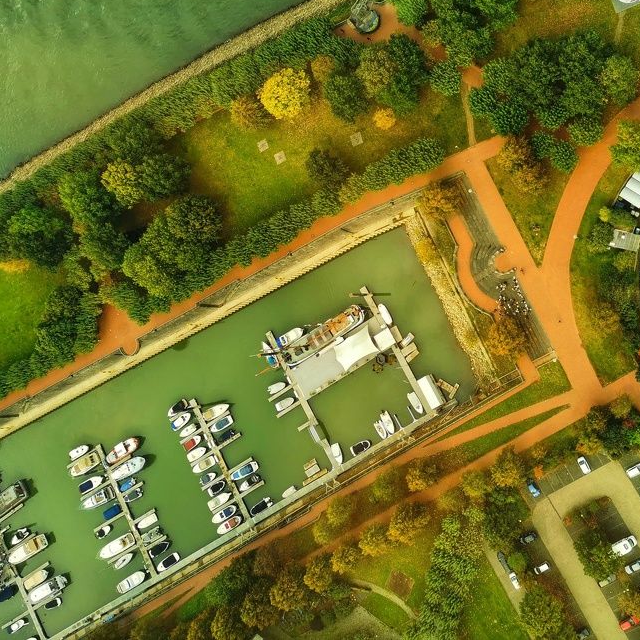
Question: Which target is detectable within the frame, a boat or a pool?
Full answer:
Of the two, only a boat appears.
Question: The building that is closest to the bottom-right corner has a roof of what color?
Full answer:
The color of the roof on the building that is closest to the bottom-right corner is white.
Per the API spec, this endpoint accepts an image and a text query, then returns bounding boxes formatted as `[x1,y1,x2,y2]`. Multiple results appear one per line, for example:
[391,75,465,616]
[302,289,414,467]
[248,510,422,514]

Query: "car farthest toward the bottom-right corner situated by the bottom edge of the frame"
[619,615,640,631]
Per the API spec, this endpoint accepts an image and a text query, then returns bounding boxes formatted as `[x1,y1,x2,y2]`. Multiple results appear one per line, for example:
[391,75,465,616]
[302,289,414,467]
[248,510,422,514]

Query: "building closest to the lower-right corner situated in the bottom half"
[416,373,448,409]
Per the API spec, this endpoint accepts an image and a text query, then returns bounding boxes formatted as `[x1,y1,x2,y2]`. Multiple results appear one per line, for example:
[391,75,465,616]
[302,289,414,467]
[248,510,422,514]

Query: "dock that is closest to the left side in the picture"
[0,479,64,640]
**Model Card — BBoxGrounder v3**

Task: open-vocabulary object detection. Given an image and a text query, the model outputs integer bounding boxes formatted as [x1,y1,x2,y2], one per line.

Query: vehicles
[619,615,640,631]
[528,481,539,498]
[625,463,640,477]
[624,559,640,575]
[533,561,551,575]
[598,573,617,587]
[508,572,522,591]
[577,456,590,474]
[576,628,591,640]
[611,534,638,557]
[520,532,537,544]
